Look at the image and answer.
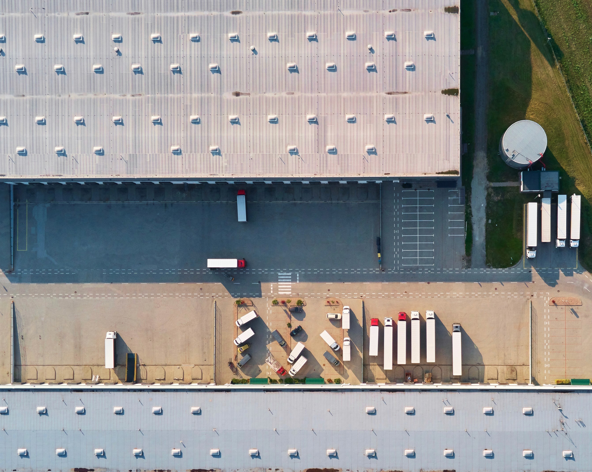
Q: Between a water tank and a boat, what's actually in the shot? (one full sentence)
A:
The image shows a water tank.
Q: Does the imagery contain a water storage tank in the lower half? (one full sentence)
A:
No, I can find no water storage tank in the lower half.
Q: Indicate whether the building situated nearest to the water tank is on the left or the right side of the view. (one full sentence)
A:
You can find the building situated nearest to the water tank on the right side of the picture.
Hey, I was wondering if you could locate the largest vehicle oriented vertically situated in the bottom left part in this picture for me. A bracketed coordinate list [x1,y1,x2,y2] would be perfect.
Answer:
[105,330,118,368]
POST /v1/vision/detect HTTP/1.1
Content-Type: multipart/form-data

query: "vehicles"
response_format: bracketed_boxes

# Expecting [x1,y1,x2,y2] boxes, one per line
[410,310,420,363]
[324,351,340,366]
[236,311,258,327]
[272,329,287,346]
[383,316,393,369]
[343,338,351,362]
[288,342,305,364]
[568,195,580,249]
[426,310,435,363]
[396,311,407,364]
[238,343,250,353]
[105,330,118,368]
[342,305,350,329]
[451,322,461,376]
[369,317,378,356]
[289,355,307,375]
[290,325,303,336]
[237,188,248,222]
[526,202,537,258]
[207,259,247,268]
[237,353,252,367]
[555,195,566,248]
[319,330,340,351]
[265,356,287,377]
[234,327,255,346]
[327,313,342,319]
